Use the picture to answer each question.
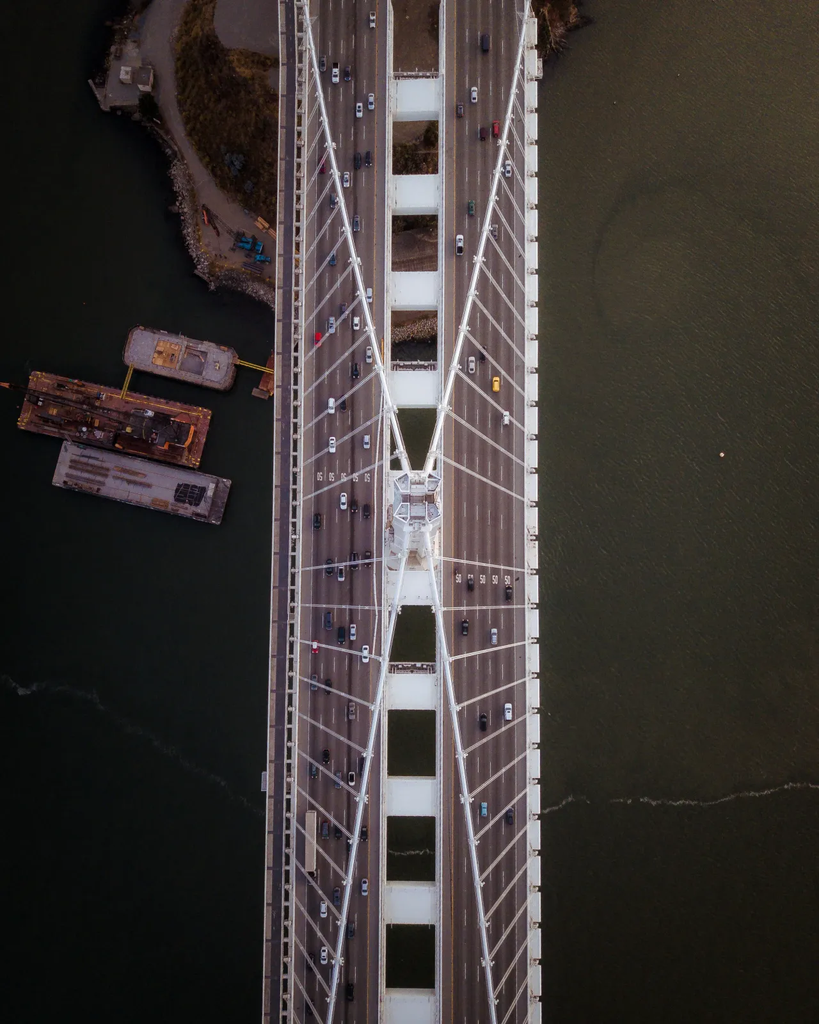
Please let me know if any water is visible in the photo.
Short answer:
Yes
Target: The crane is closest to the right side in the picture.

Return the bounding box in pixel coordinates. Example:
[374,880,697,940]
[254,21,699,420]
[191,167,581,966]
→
[202,204,255,254]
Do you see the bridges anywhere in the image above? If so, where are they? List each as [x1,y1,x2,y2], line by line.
[262,0,541,1024]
